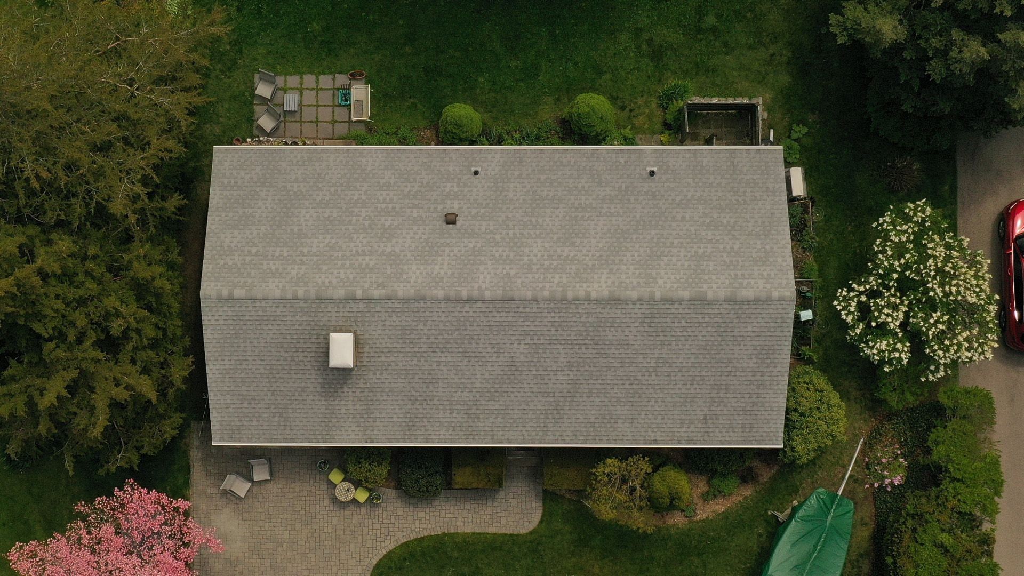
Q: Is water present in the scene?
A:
No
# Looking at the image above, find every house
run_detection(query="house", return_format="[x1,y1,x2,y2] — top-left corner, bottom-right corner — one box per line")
[199,145,796,447]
